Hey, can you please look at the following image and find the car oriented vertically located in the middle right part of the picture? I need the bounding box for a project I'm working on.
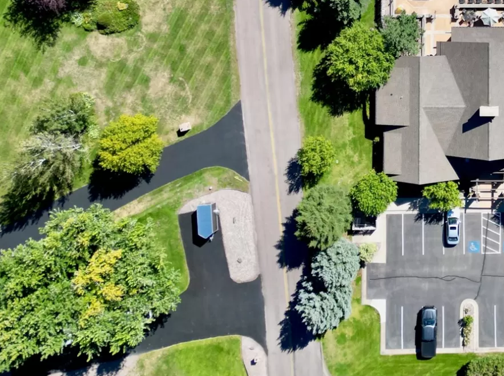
[445,207,462,244]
